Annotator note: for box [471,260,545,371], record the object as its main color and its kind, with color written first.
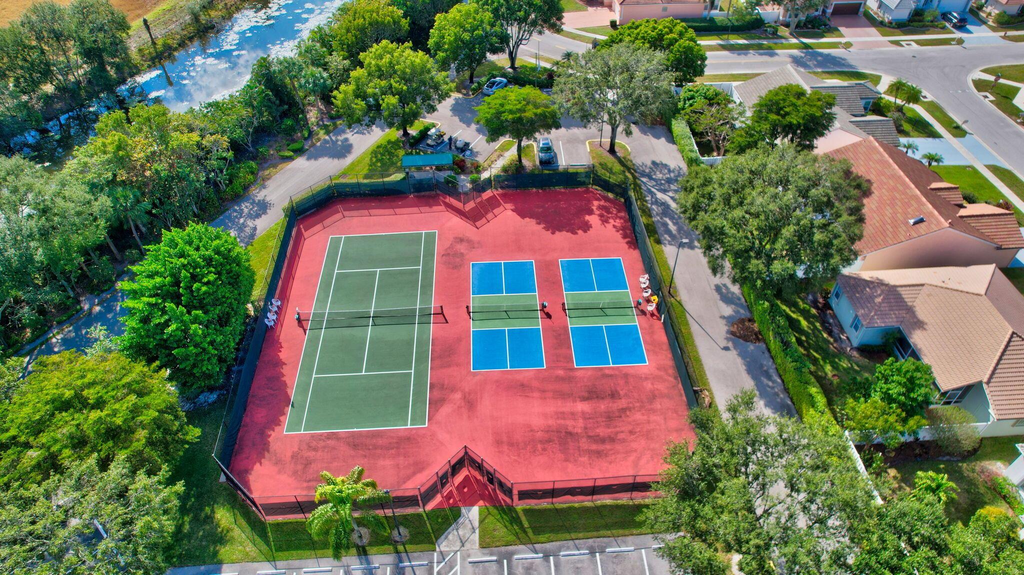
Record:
blue sports court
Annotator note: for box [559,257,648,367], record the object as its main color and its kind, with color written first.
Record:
blue sports court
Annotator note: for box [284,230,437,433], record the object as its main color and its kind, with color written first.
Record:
green tennis court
